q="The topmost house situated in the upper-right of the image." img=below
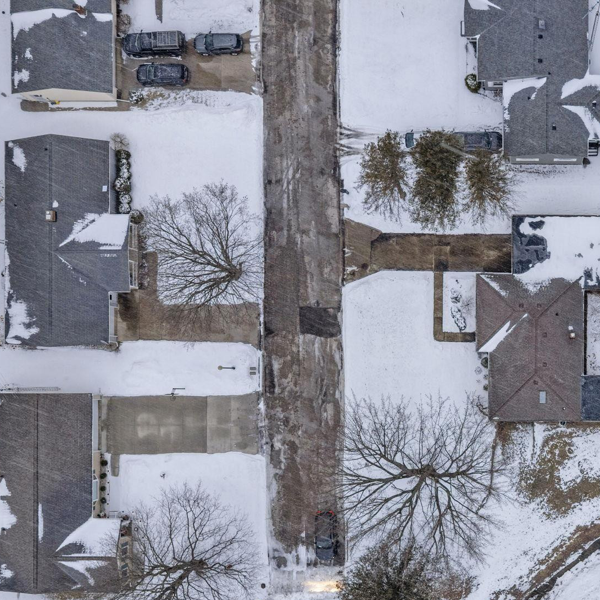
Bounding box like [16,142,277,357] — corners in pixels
[460,0,600,163]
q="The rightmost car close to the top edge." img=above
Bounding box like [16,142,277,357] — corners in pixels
[192,27,241,54]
